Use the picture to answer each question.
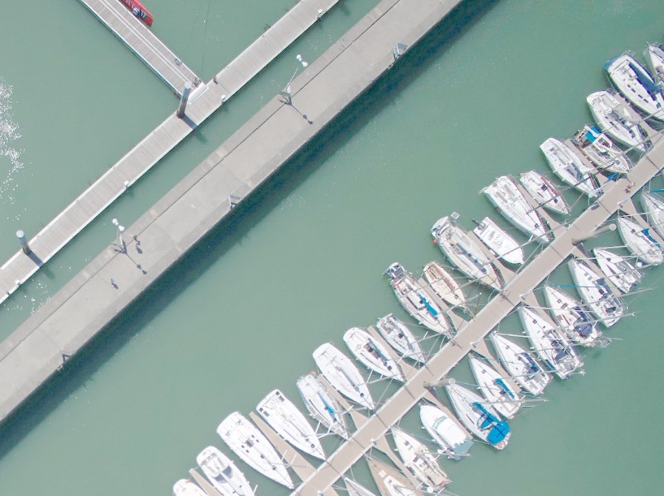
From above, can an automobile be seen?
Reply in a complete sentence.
No, I can't see a single automobile in this photo.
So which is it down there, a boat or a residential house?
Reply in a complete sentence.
Visible in the photo is a boat.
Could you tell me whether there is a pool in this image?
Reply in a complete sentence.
No, I can't see a single pool in this photo.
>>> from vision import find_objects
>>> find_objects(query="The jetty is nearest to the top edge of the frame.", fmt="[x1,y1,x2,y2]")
[78,0,209,104]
